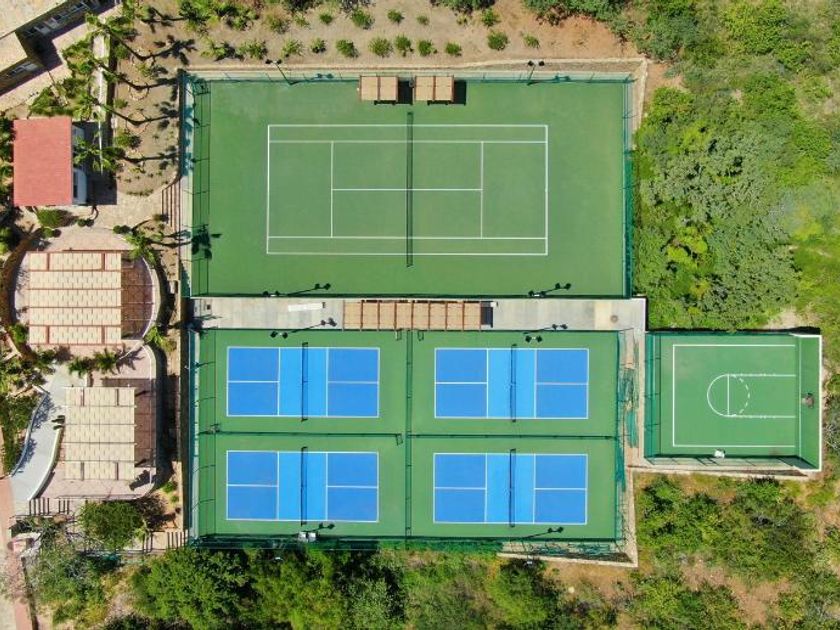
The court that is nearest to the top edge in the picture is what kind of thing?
tennis court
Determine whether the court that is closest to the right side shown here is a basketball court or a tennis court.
basketball court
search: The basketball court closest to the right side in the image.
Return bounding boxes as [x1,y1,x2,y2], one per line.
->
[646,334,799,459]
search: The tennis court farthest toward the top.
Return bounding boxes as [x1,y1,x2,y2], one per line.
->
[194,82,624,296]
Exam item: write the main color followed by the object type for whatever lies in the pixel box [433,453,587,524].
blue sports court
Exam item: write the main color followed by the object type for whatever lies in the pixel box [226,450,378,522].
blue sports court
